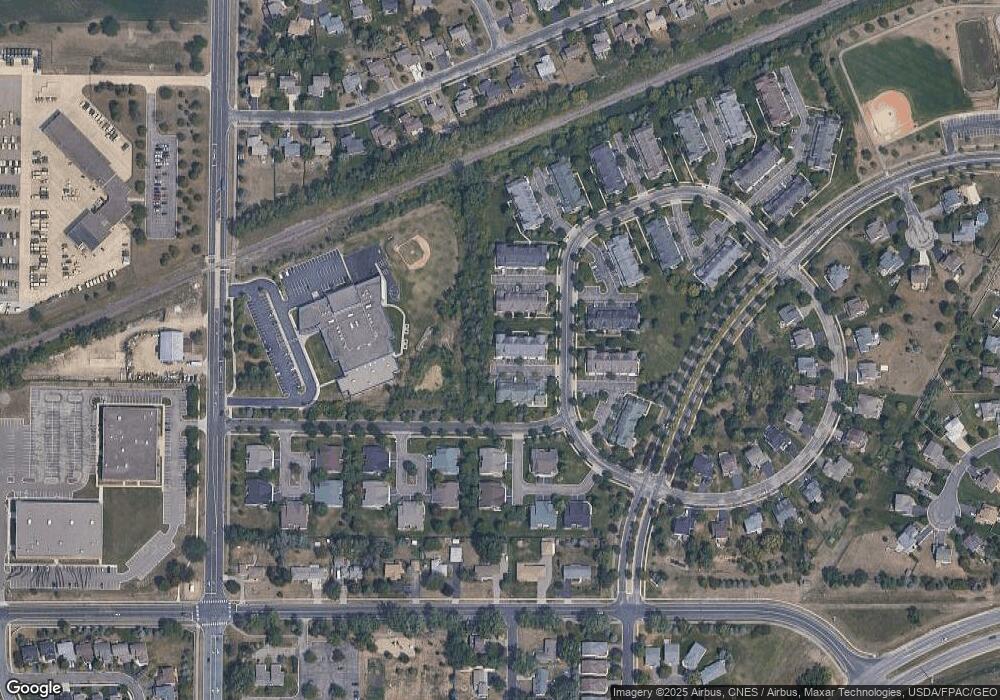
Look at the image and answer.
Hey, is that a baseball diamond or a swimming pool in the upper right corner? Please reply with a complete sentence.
There is a baseball diamond in the upper right corner.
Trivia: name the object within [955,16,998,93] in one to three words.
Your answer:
sports field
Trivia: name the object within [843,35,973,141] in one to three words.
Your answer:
baseball field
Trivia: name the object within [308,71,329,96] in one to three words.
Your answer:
house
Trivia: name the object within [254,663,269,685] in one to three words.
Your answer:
building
